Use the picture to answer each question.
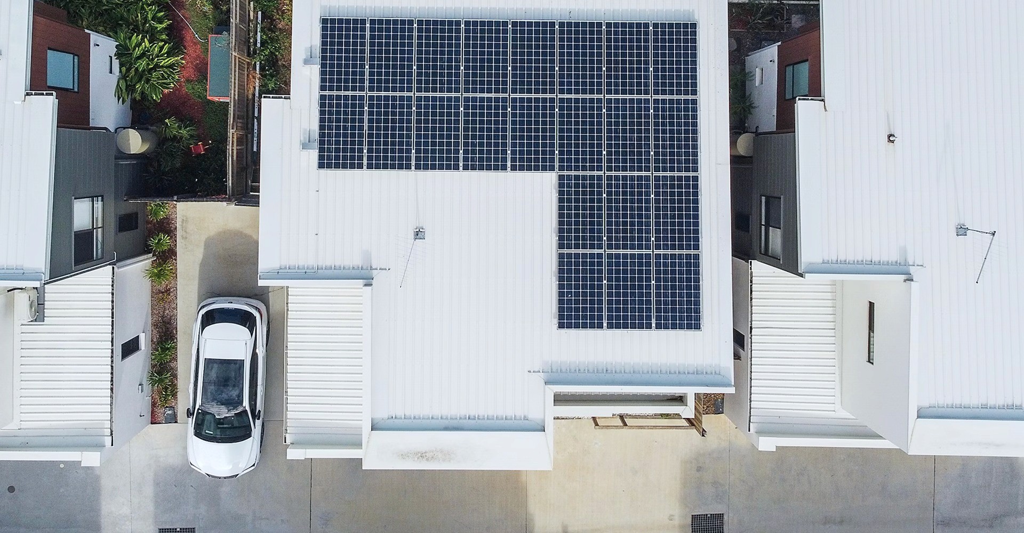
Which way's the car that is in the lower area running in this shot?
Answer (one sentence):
I'd say the car that is in the lower area is aligned from top to bottom in the picture.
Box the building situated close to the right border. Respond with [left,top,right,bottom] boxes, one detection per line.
[723,0,1024,457]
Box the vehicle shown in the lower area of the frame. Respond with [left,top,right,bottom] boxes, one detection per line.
[188,295,271,476]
